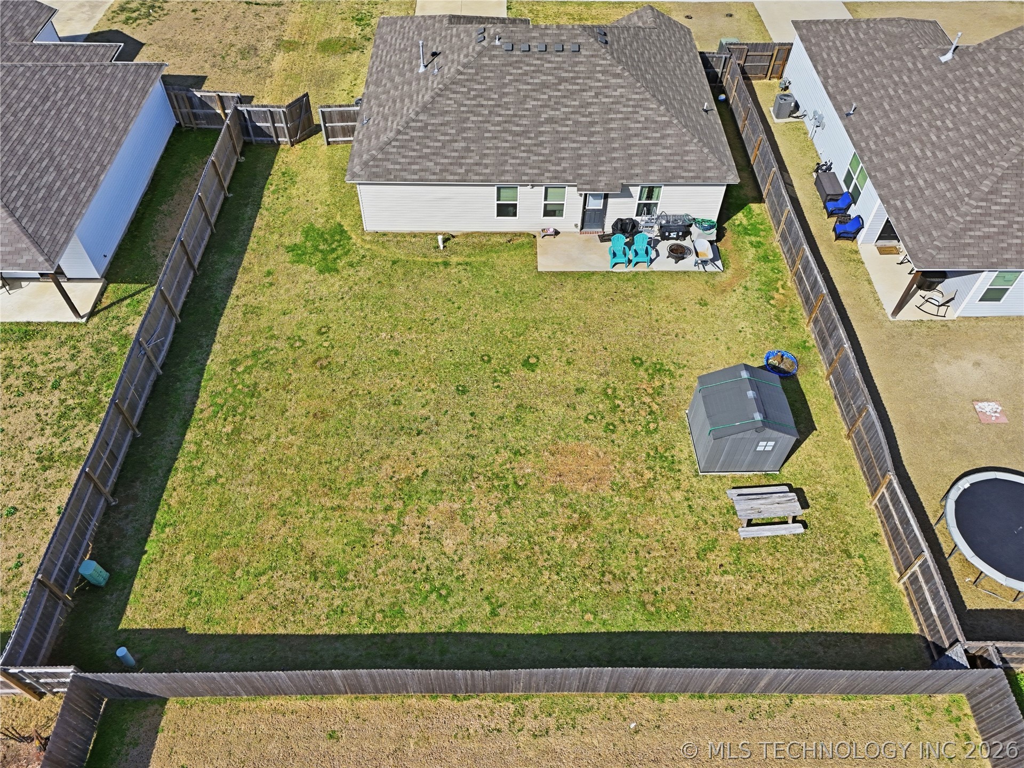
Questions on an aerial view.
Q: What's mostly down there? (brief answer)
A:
grass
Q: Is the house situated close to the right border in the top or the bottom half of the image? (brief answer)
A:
top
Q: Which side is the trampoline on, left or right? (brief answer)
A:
right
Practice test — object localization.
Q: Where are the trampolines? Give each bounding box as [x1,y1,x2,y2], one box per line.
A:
[935,472,1024,604]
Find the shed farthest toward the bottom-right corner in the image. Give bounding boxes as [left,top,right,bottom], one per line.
[686,365,801,474]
